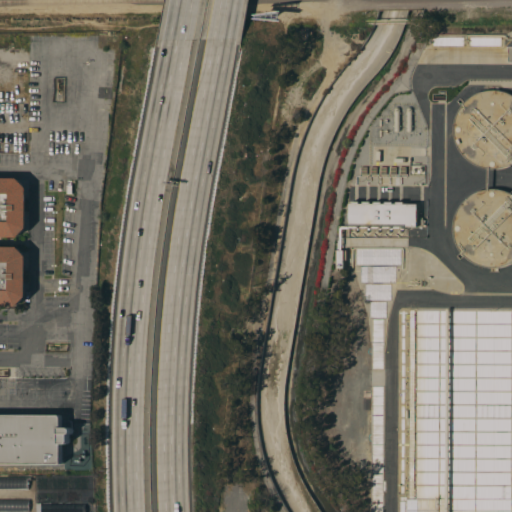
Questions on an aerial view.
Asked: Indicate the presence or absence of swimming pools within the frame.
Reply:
No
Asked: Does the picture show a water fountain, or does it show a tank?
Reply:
tank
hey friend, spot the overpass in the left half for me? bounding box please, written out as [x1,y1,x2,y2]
[155,0,248,48]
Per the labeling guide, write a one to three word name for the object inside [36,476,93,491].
house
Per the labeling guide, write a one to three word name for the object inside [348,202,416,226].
building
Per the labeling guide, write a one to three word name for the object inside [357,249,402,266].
shed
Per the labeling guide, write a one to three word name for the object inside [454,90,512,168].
storage tank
